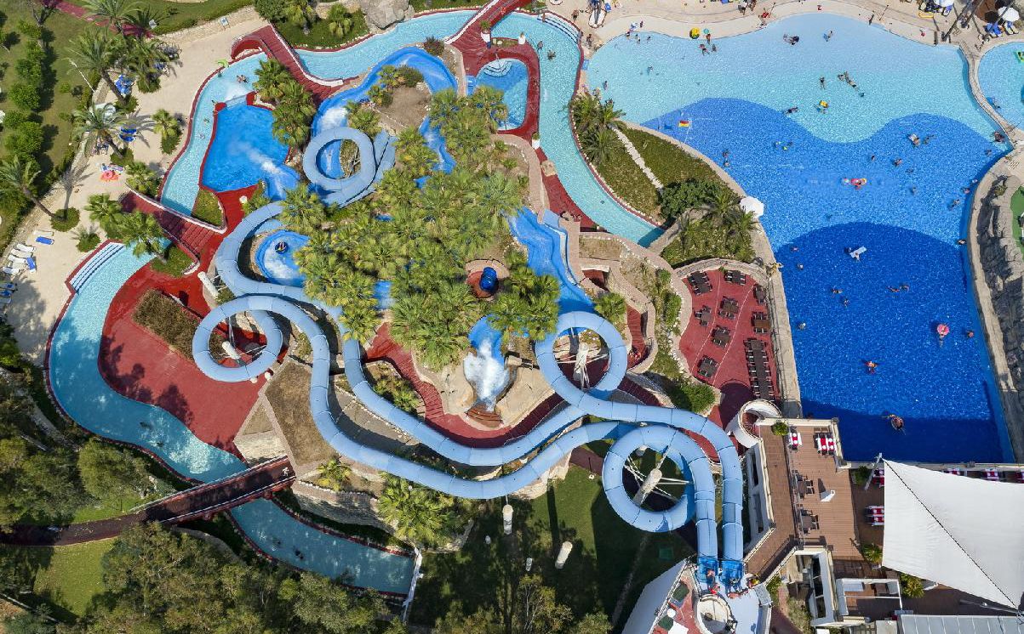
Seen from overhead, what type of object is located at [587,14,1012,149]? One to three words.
swimming pool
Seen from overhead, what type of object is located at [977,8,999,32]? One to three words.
umbrella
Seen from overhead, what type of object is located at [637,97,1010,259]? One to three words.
swimming pool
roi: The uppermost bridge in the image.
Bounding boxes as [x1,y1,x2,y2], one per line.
[444,0,532,47]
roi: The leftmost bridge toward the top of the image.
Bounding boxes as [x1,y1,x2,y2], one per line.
[121,179,227,272]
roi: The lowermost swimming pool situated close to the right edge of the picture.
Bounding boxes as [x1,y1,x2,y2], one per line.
[775,222,1002,466]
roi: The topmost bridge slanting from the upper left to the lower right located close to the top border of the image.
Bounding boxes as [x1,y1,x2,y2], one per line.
[230,22,343,112]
